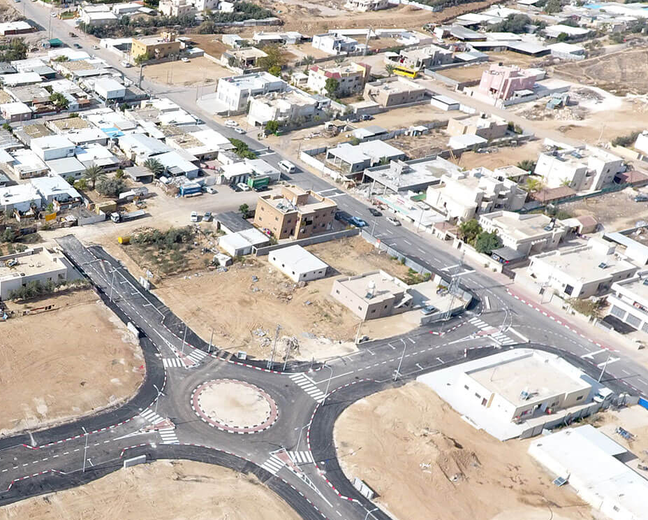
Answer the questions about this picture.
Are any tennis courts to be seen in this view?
No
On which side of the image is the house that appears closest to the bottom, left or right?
right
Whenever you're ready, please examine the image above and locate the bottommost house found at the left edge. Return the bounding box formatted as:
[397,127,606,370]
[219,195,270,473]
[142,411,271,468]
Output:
[0,247,67,295]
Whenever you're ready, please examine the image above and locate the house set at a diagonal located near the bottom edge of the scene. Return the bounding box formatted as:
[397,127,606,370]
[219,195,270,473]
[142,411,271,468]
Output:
[525,425,648,520]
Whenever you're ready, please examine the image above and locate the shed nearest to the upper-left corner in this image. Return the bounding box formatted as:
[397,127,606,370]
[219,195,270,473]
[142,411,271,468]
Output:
[0,21,33,39]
